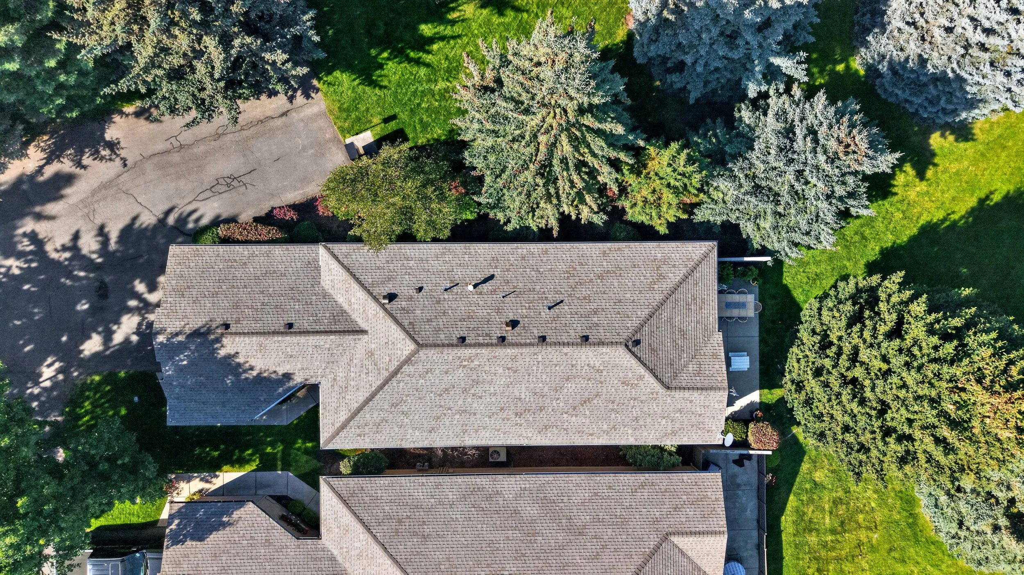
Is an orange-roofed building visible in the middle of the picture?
No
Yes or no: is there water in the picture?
No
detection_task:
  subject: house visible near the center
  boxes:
[150,241,733,450]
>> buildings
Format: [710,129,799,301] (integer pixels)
[150,241,733,450]
[153,466,730,575]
